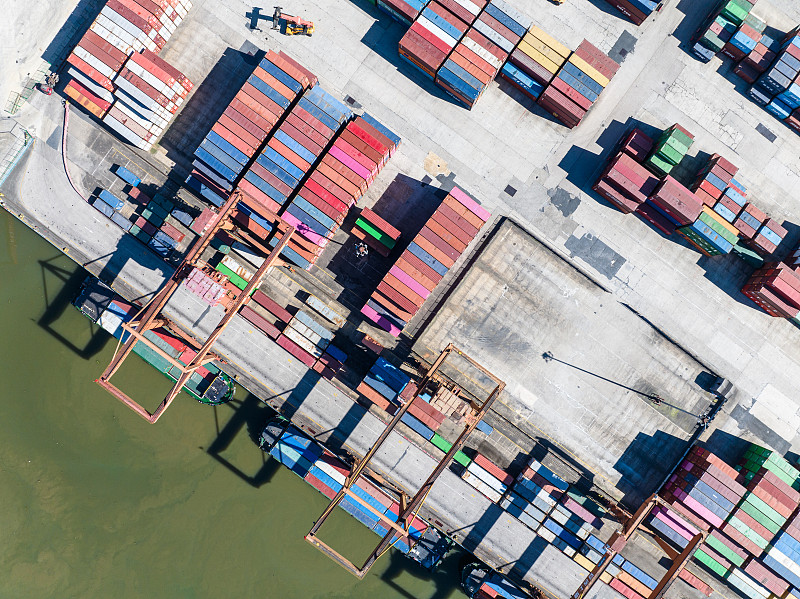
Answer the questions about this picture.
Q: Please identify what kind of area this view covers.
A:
port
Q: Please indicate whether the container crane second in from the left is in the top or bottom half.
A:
bottom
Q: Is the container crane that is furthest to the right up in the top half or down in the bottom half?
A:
bottom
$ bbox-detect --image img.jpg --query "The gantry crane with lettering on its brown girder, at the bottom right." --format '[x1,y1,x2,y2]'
[523,487,713,599]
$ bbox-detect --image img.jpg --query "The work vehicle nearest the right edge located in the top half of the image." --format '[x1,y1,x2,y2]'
[266,0,316,34]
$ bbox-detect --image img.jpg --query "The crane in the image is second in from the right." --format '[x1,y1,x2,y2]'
[303,339,508,579]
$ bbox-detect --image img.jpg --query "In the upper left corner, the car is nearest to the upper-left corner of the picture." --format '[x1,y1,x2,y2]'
[34,81,51,95]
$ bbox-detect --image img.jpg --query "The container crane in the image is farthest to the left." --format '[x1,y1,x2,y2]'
[92,184,300,423]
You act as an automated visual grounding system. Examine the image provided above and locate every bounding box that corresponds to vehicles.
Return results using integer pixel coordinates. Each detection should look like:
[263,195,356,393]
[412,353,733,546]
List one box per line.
[34,81,51,95]
[266,0,316,34]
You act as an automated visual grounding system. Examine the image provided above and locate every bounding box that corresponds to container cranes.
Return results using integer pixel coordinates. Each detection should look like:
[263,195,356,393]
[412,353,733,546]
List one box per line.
[92,184,300,423]
[523,487,713,599]
[303,339,508,579]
